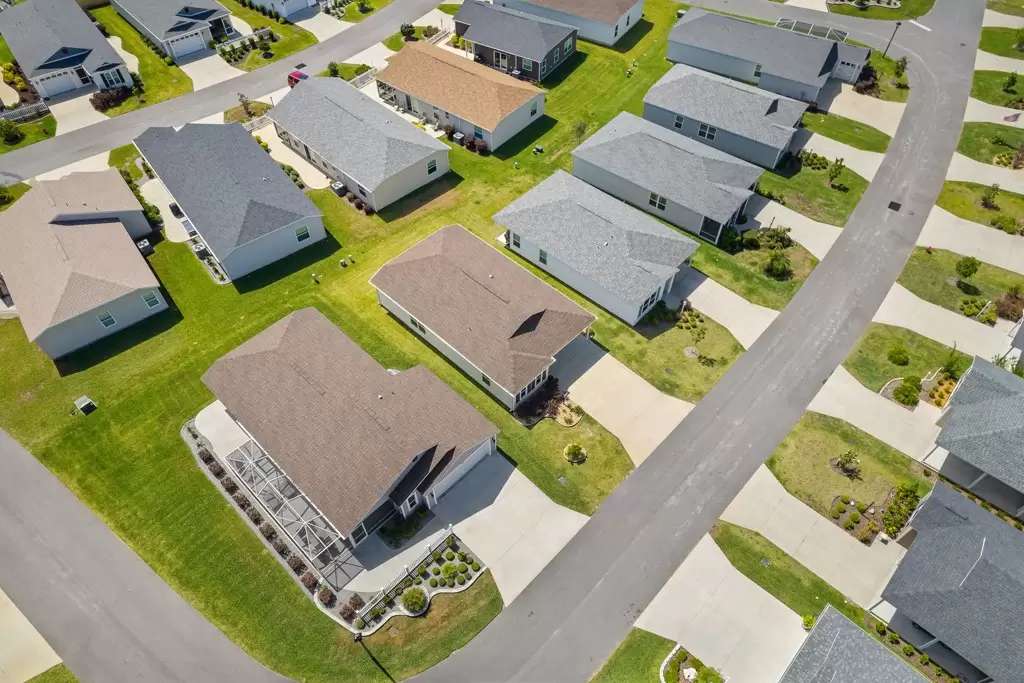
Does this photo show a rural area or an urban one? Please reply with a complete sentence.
The area is urban.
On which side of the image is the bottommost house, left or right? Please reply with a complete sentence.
The bottommost house is on the right side of the image.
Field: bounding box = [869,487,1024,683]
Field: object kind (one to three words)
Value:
house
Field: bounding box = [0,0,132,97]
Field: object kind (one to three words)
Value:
house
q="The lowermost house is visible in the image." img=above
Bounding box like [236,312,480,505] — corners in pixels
[773,604,927,683]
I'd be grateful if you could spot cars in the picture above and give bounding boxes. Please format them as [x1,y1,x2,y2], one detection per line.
[286,70,311,88]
